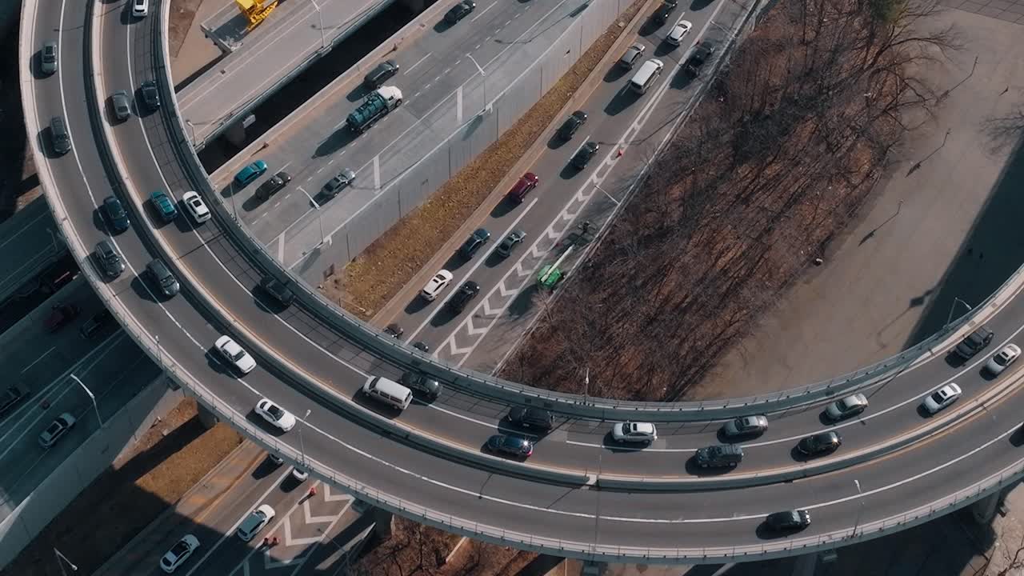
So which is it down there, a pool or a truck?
truck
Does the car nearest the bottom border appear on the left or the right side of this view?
left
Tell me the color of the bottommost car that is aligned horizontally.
black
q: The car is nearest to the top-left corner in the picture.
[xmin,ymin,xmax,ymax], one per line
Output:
[39,41,59,76]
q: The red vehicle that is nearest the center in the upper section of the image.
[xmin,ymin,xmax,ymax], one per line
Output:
[506,171,540,204]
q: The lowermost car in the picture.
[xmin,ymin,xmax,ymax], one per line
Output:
[159,533,200,573]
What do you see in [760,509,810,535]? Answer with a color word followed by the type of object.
black car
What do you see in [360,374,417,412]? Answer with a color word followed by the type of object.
white van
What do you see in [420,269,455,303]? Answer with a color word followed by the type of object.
white car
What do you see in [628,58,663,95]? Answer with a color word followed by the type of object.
white van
